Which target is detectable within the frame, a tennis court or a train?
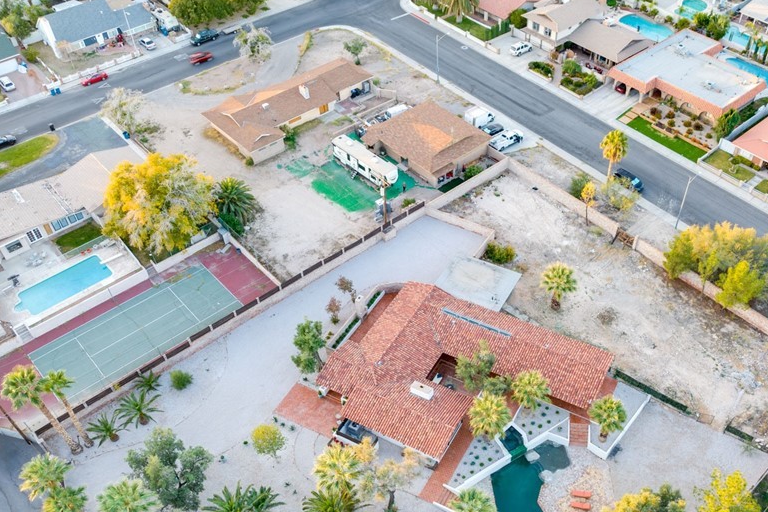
tennis court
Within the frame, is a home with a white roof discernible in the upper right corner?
Yes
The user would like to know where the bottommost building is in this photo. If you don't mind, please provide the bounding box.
[316,282,610,469]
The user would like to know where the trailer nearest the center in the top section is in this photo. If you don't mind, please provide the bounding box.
[332,136,399,187]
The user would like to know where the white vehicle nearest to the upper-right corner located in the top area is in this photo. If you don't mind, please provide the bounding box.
[509,40,533,55]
